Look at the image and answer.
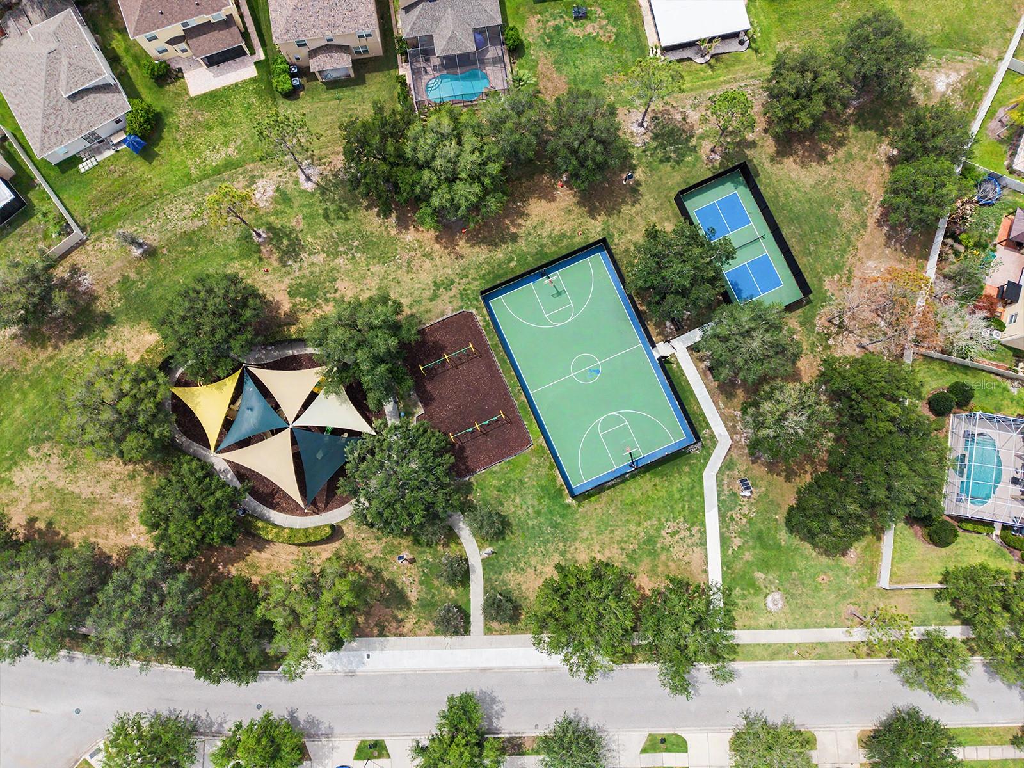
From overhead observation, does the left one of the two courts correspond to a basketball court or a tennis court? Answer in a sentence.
Specifically, the left one of the two courts is a basketball court.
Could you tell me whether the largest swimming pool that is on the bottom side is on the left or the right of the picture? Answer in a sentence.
It is on the right.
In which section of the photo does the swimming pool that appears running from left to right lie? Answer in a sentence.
The swimming pool that appears running from left to right sits in the top section of the image.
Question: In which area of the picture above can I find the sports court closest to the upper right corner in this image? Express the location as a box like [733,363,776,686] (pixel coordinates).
[688,171,805,315]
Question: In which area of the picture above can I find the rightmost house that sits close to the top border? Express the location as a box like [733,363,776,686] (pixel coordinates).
[399,0,502,66]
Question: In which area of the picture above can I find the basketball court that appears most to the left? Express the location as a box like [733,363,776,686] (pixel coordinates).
[485,244,696,496]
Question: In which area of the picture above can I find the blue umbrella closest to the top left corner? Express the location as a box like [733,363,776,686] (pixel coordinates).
[125,133,146,154]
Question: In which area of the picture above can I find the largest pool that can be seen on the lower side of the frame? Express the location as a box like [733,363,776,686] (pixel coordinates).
[957,423,1004,507]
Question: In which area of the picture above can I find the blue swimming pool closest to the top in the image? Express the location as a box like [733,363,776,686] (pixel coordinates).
[425,67,492,104]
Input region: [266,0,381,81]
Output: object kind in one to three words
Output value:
house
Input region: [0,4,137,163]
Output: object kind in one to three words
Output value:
house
